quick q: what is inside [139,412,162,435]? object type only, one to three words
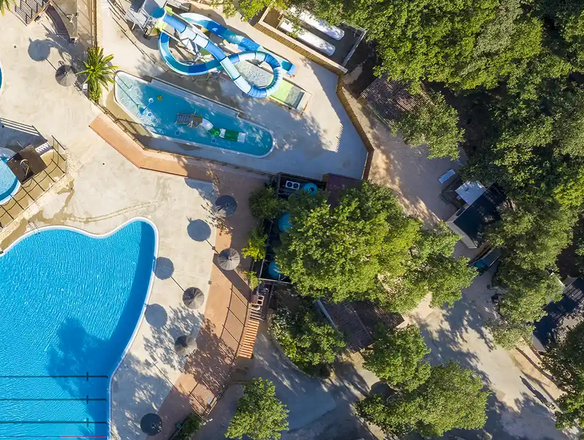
umbrella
